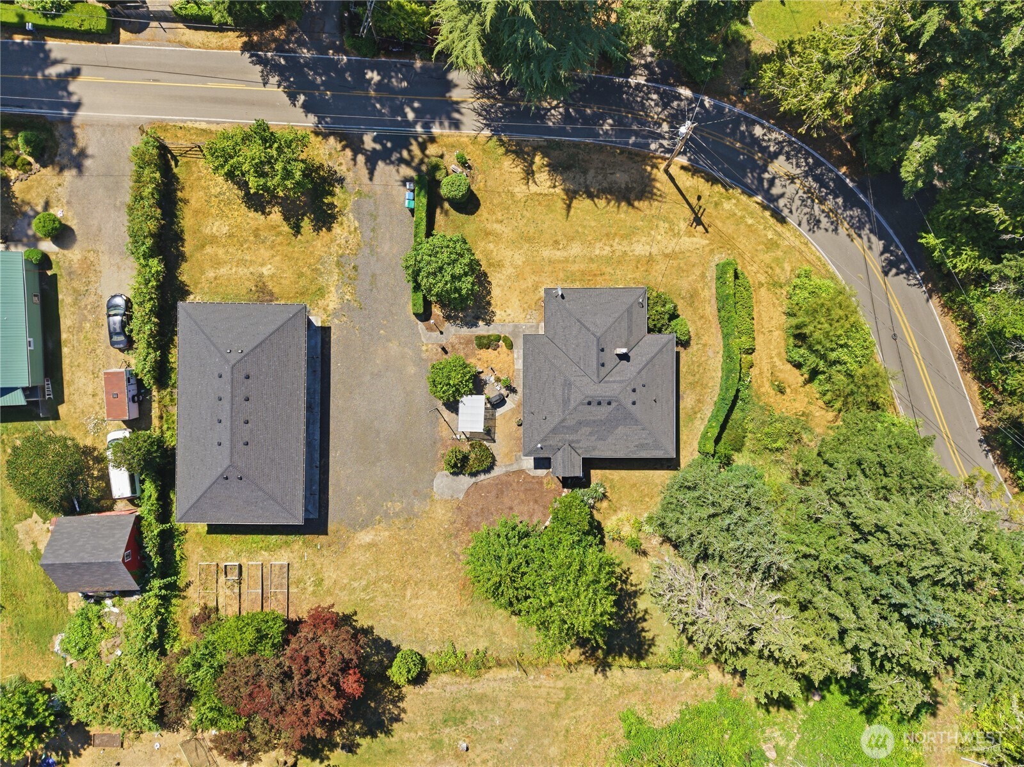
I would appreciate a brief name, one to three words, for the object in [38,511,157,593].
building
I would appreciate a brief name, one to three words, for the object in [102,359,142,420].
trailer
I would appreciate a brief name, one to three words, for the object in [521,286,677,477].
house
